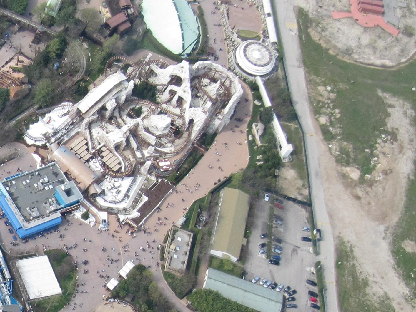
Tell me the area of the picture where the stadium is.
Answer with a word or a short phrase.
top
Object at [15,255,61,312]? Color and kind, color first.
white tent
